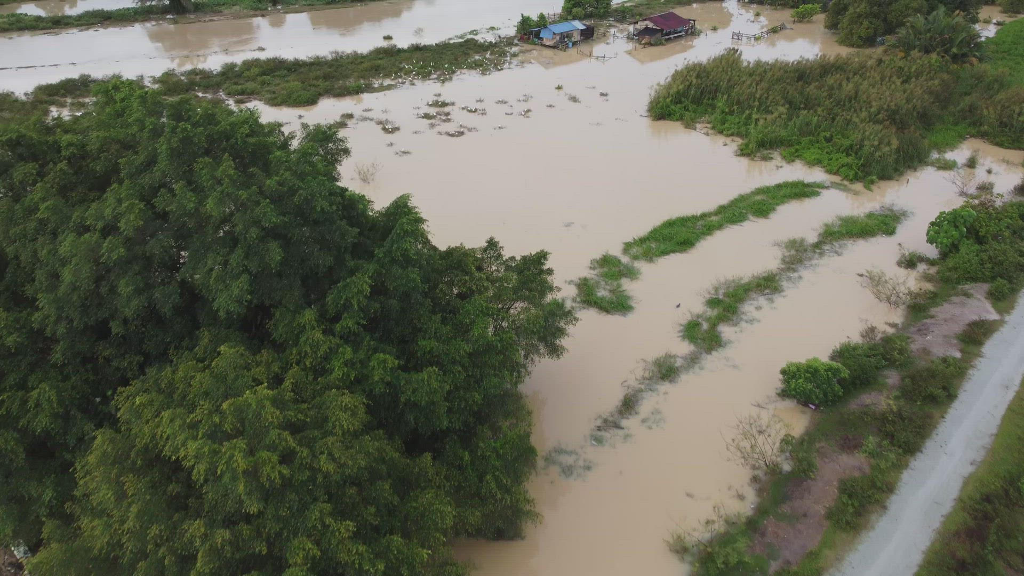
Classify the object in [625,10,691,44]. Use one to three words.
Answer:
shed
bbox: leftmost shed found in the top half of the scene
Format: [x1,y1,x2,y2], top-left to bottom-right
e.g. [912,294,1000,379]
[516,20,595,48]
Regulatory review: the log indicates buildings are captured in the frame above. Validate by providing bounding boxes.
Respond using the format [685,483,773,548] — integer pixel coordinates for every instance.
[625,10,691,44]
[516,20,595,48]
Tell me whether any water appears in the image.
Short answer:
Yes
